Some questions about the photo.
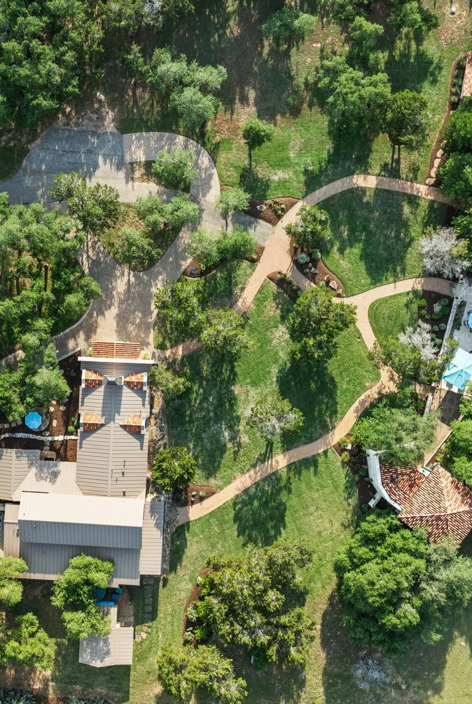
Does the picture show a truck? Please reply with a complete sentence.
No, no truck can be seen from above.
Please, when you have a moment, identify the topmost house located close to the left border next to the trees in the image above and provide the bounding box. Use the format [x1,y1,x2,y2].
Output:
[0,341,165,587]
